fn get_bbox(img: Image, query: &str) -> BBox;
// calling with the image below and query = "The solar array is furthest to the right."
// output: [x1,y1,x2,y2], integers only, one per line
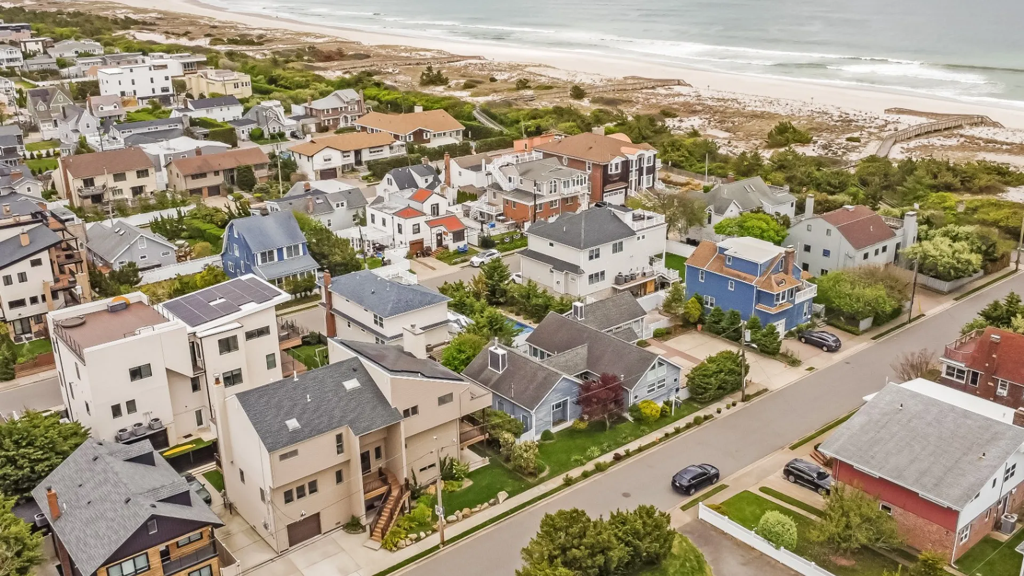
[336,340,468,382]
